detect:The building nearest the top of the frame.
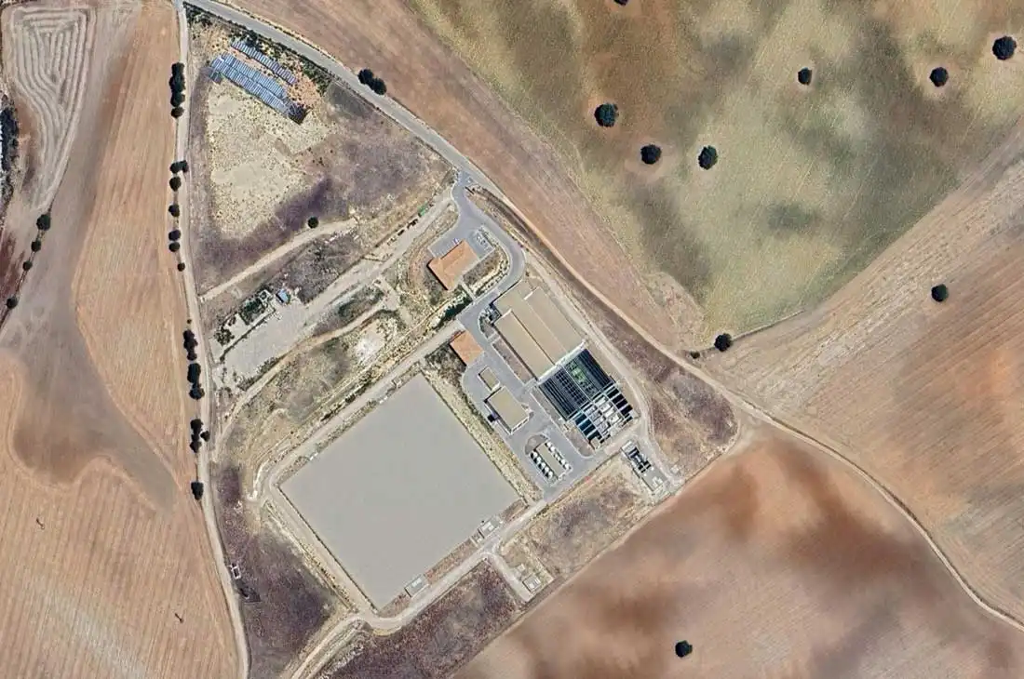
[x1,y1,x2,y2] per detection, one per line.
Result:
[426,240,480,288]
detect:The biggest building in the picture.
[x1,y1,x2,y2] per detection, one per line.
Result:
[493,280,584,379]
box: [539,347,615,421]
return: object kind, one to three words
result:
storage tank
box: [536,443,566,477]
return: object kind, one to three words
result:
building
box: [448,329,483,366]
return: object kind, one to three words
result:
building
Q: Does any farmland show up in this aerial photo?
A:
Yes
